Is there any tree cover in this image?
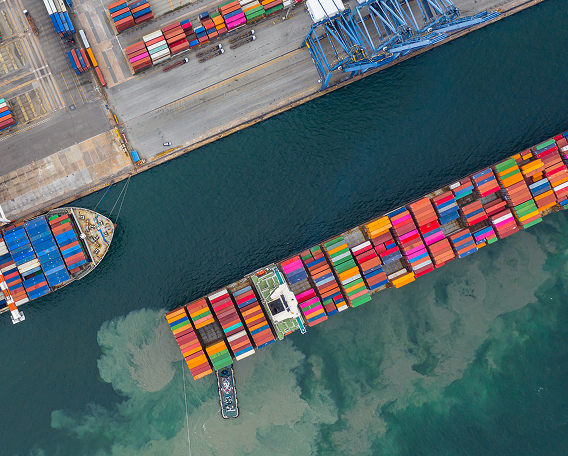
No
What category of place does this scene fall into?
port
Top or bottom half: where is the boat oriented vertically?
bottom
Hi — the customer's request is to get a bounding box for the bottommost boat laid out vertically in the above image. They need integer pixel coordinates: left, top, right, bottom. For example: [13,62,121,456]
[217,361,240,420]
